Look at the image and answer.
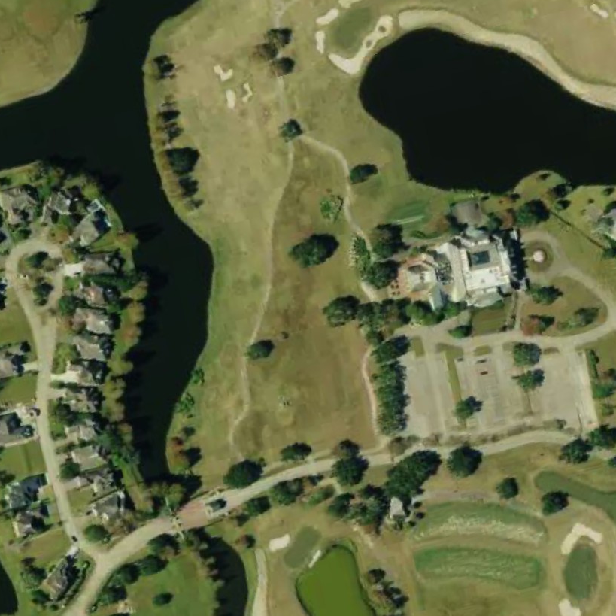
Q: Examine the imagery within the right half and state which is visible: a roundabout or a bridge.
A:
roundabout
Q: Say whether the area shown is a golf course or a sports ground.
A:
golf course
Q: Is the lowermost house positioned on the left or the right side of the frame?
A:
left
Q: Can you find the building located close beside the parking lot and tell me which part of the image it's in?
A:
right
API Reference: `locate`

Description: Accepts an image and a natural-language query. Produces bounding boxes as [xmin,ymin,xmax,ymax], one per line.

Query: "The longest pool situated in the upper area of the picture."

[94,200,111,226]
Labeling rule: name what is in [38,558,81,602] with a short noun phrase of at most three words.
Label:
house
